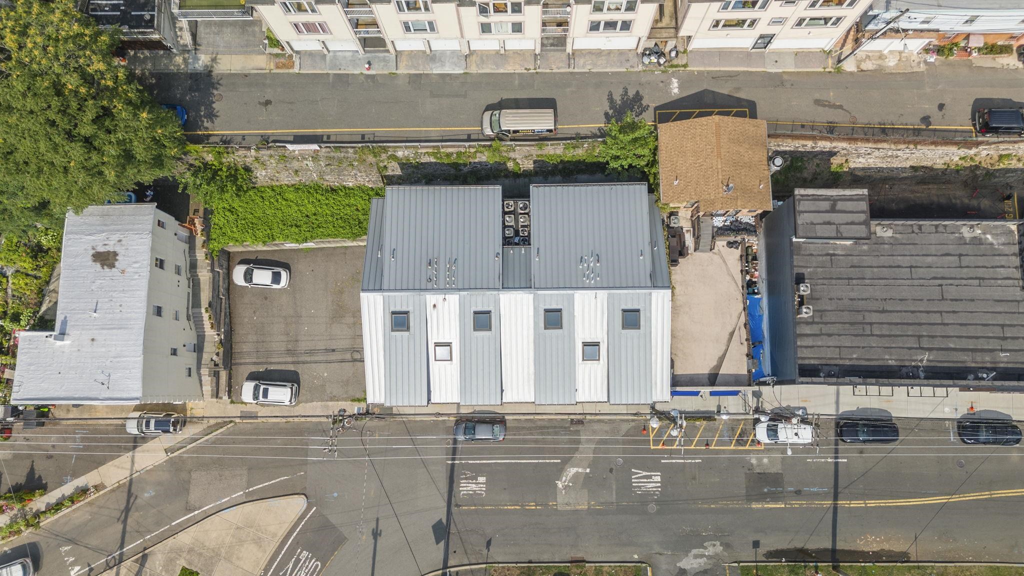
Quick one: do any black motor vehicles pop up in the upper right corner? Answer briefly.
Yes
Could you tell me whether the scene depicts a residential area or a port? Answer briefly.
residential area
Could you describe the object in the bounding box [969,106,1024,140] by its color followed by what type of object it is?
black car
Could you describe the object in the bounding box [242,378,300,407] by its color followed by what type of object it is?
white car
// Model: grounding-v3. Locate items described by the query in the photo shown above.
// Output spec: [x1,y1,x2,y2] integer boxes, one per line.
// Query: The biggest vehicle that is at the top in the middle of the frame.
[483,107,556,145]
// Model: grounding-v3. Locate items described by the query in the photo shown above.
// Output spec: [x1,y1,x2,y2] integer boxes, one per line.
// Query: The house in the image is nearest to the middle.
[359,180,671,407]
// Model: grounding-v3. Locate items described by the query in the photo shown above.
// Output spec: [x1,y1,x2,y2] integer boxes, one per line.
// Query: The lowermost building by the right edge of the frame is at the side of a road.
[757,188,1024,384]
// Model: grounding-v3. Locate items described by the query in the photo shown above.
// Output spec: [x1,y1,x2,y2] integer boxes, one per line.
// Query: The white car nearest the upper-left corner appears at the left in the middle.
[235,262,291,288]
